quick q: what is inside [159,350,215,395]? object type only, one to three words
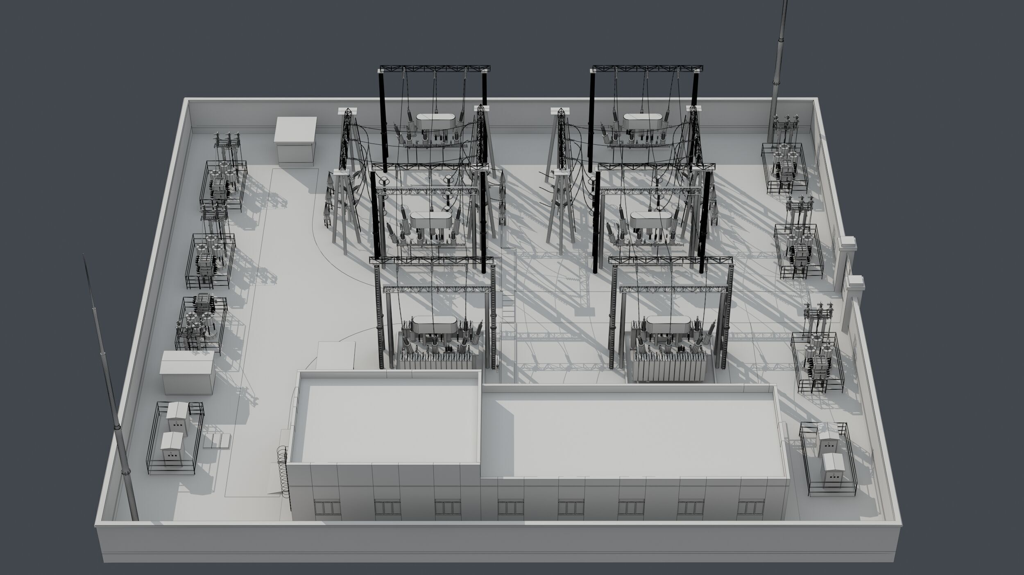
shed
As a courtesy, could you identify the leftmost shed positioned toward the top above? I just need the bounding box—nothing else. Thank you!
[273,116,318,166]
